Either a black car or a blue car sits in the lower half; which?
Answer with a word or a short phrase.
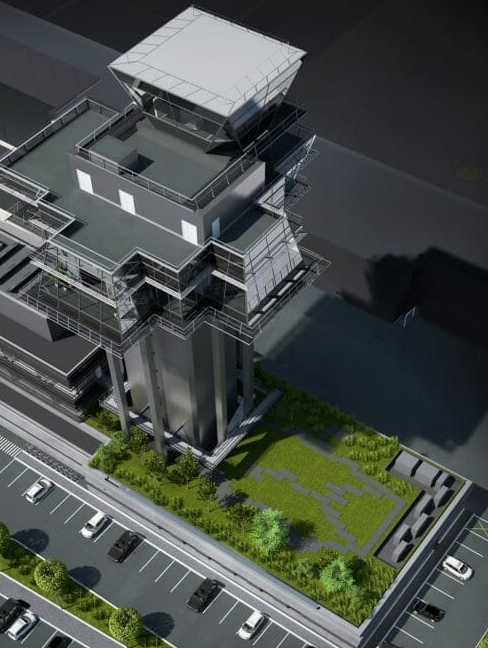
black car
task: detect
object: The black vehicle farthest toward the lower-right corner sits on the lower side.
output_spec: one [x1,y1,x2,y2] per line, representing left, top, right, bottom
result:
[408,598,448,626]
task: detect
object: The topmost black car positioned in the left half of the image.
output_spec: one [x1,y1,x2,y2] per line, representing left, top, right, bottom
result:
[107,528,141,563]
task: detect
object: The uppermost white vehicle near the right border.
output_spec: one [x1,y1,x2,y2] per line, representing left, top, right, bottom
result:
[439,555,474,582]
